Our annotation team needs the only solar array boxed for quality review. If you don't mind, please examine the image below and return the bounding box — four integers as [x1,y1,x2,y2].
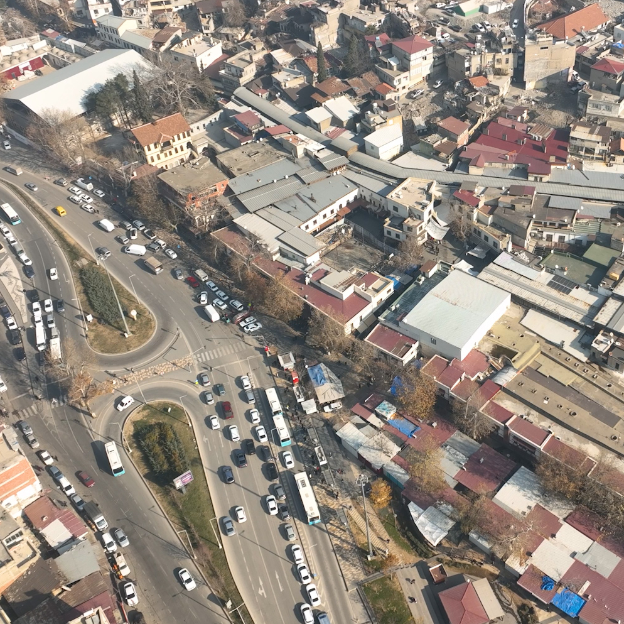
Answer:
[547,277,576,297]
